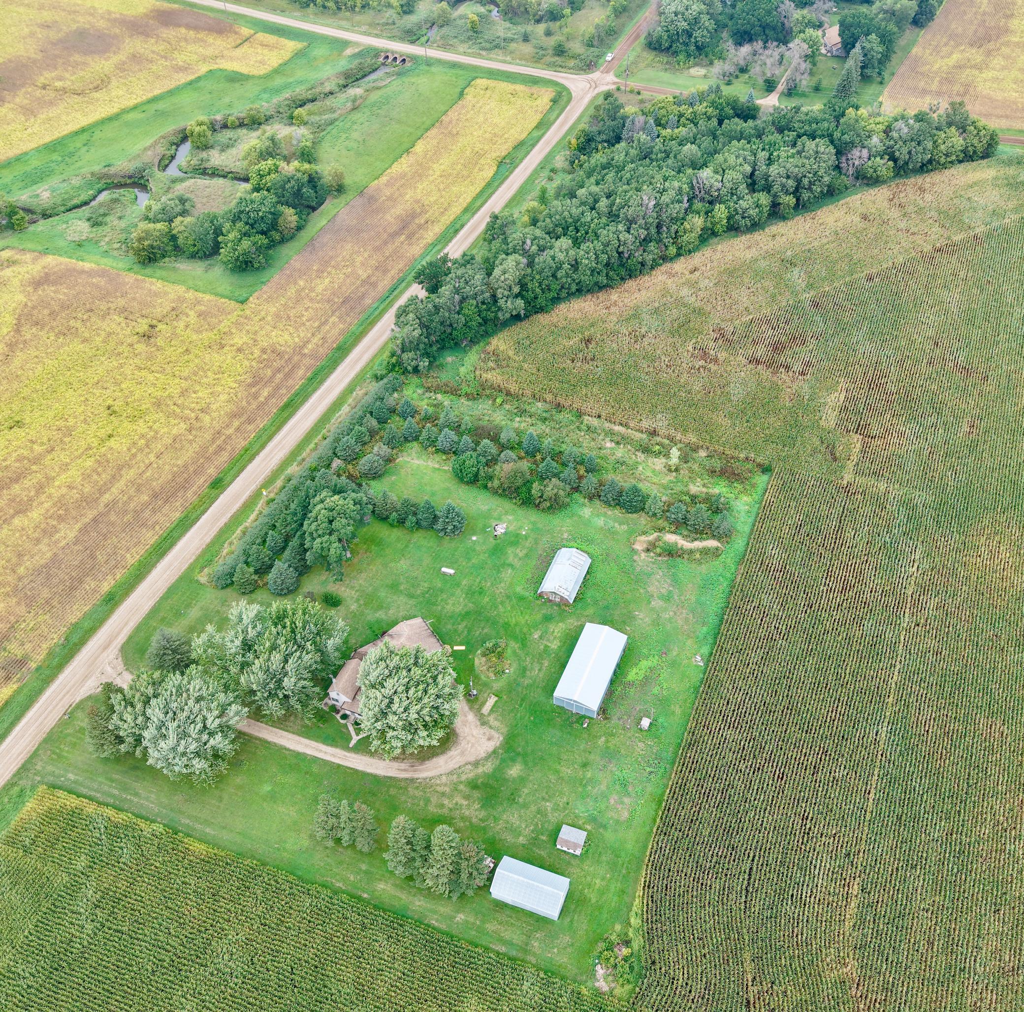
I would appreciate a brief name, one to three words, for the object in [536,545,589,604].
barn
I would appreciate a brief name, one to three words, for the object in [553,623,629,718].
shed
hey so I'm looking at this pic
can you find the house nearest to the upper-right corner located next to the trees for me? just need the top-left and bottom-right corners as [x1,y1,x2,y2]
[824,25,849,58]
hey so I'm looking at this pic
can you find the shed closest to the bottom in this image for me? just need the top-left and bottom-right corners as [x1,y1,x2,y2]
[490,855,572,921]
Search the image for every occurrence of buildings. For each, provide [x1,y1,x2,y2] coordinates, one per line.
[327,617,444,728]
[536,545,589,604]
[490,855,572,921]
[553,623,629,718]
[556,824,588,856]
[824,25,849,58]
